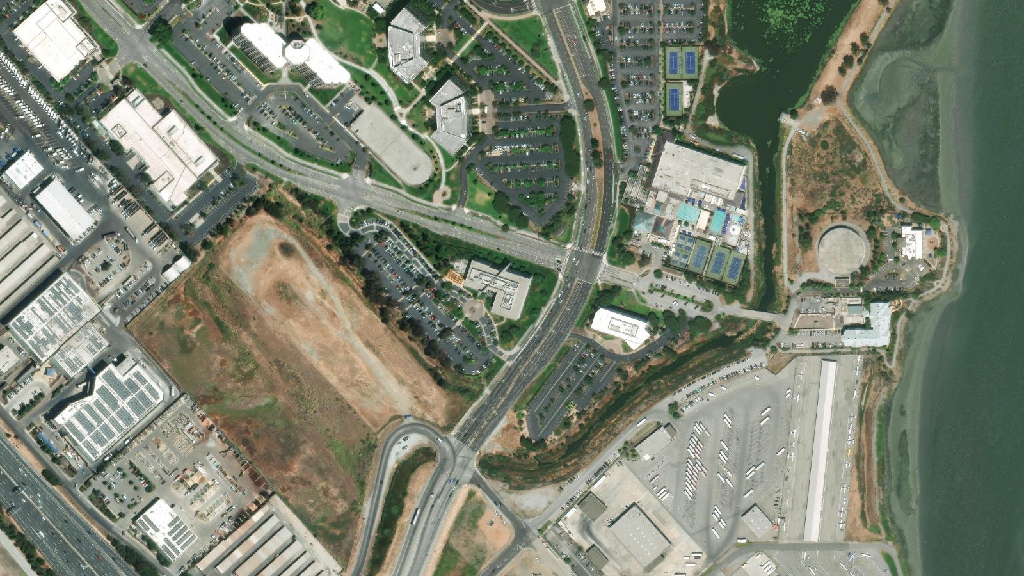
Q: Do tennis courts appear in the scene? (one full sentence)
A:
Yes, a tennis court can be made out from above.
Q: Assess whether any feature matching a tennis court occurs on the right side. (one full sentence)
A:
Yes, the scene does show a tennis court on the right side.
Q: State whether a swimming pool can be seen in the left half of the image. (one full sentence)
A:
No, no swimming pool can be made out in the left half of the image.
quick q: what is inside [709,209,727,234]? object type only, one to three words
swimming pool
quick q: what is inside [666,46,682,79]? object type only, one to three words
tennis court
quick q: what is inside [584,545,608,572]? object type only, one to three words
shed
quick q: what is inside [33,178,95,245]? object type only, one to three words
building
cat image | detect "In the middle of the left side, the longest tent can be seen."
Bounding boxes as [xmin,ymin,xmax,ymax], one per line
[160,255,191,283]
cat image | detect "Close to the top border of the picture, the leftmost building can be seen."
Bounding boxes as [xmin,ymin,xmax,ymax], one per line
[11,0,95,82]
